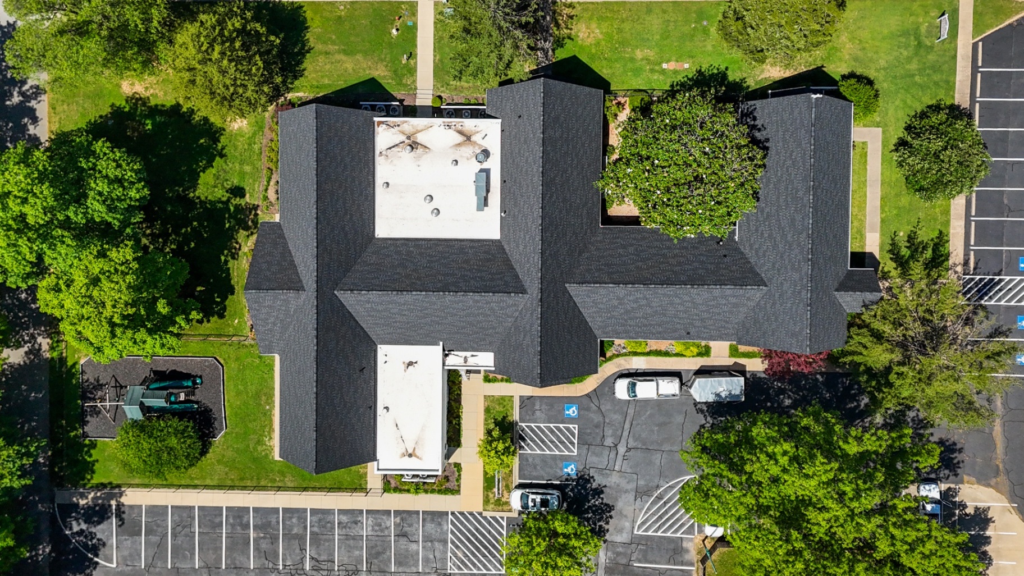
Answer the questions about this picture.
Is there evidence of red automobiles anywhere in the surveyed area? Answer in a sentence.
No, this view has no red automobile in it.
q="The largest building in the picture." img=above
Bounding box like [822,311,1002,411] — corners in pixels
[244,73,883,474]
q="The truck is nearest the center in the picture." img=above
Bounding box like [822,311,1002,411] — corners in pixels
[613,374,681,400]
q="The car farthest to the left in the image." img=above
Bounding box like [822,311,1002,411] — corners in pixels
[511,485,562,513]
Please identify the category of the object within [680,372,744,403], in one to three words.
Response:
trailer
